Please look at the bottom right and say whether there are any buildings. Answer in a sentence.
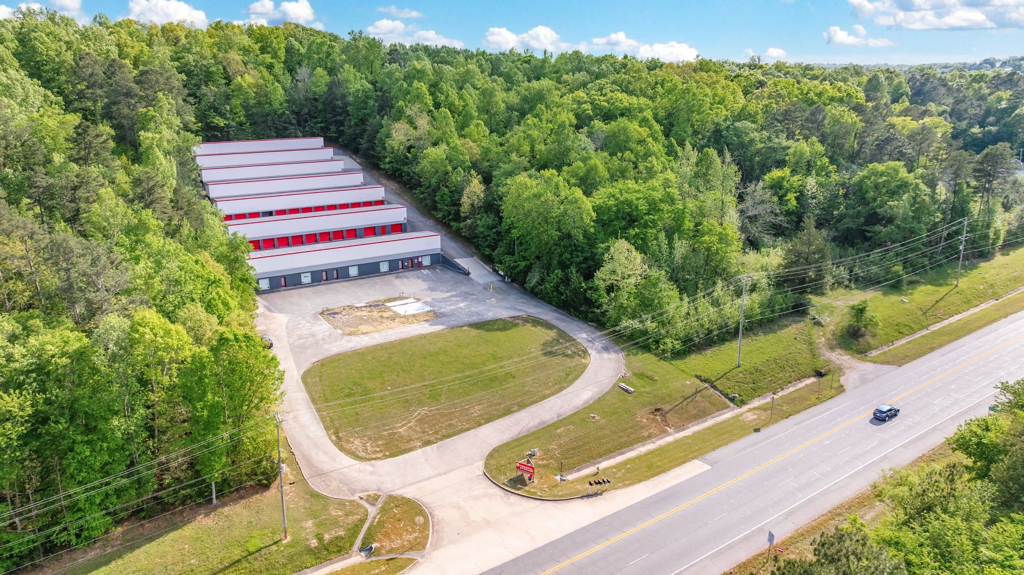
No, no building is visible at the bottom right.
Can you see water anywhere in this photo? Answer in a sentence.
No, water can't be seen anywhere here.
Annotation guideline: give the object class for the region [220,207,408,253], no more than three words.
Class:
building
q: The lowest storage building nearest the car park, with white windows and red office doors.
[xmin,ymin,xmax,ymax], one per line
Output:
[240,233,442,296]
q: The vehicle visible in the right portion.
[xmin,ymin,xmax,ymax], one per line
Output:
[871,402,901,421]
